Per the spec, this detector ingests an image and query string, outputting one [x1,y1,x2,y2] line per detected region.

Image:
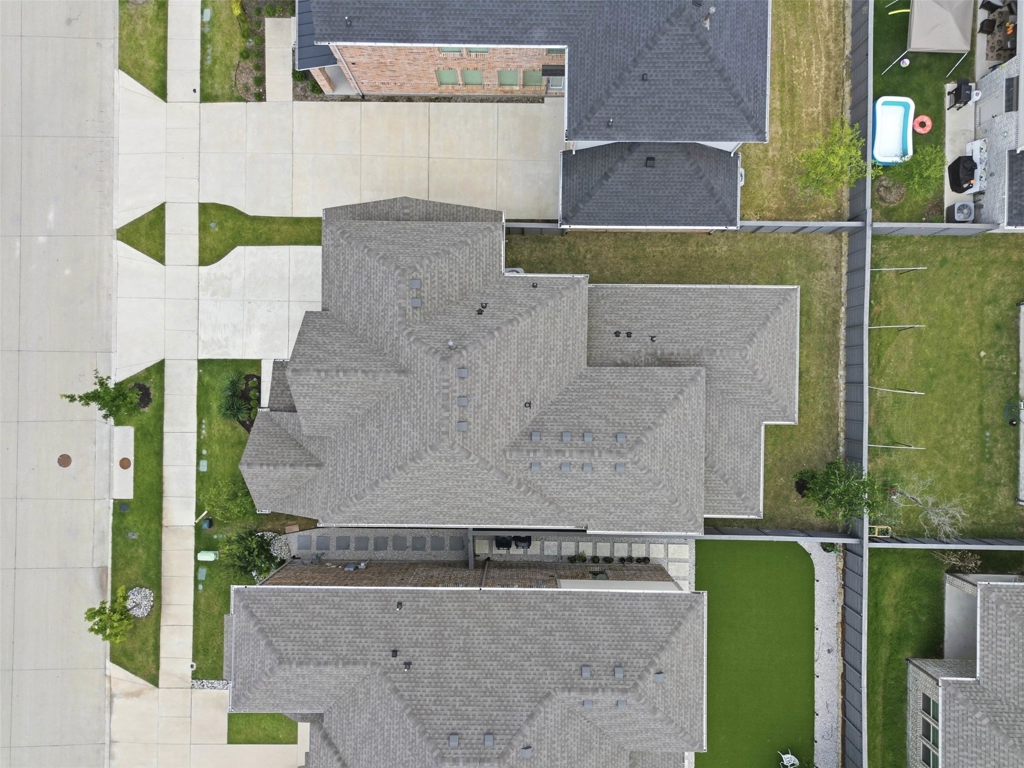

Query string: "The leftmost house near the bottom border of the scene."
[223,554,709,768]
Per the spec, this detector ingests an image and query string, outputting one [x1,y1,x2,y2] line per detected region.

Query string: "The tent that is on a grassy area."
[882,0,972,75]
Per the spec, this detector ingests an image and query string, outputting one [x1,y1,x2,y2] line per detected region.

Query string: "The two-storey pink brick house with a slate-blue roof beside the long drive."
[294,0,772,236]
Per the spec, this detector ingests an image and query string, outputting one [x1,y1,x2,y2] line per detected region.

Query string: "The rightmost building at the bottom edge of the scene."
[906,574,1024,768]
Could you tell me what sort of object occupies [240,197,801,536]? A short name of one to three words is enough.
house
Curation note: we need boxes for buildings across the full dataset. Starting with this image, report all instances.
[240,197,801,536]
[223,554,709,768]
[906,574,1024,768]
[294,0,772,236]
[974,0,1024,232]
